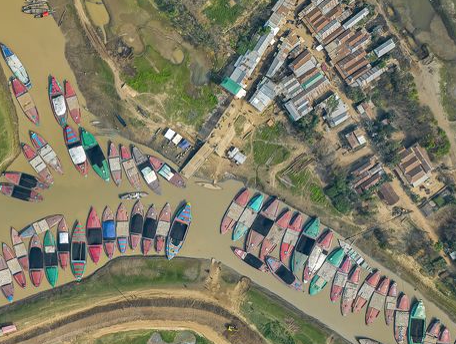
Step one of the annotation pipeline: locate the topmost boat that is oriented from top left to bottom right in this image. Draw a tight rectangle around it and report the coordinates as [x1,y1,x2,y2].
[0,43,32,88]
